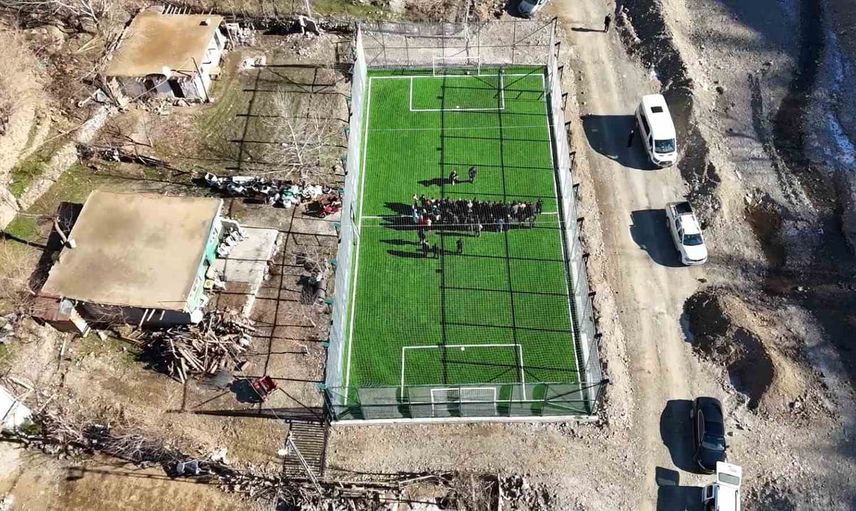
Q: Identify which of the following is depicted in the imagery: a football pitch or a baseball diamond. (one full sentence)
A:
The one in the frame is a football pitch.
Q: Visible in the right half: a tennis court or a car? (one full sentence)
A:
Visible in the right half is a car.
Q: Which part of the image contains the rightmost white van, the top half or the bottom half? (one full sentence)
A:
Seen from above, the rightmost white van lies in the bottom half of the view.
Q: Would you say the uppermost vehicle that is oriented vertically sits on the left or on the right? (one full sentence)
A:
The uppermost vehicle that is oriented vertically sits on the right side.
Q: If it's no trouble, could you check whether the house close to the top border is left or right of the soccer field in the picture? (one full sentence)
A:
In the image, the house close to the top border sits on the left side of the soccer field.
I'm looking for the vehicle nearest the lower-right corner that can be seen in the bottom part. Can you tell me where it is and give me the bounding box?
[705,468,746,511]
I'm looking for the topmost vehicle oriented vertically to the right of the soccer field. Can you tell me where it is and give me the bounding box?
[637,96,679,166]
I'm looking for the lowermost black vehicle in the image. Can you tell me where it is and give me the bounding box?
[689,397,731,476]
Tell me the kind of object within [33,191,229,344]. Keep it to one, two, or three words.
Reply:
house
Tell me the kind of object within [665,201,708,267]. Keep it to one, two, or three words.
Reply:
truck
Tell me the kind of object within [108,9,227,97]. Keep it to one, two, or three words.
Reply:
house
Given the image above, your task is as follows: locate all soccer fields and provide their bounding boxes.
[334,60,595,422]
